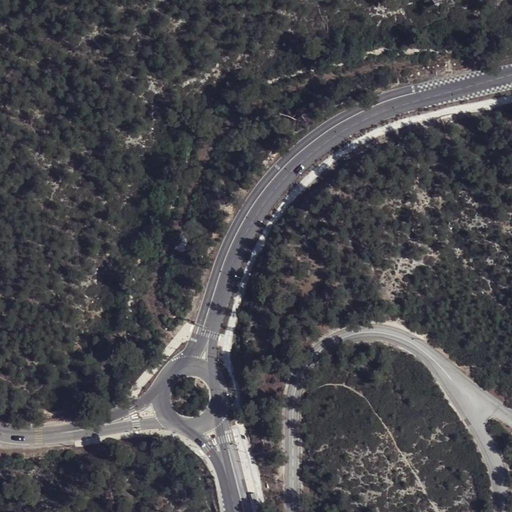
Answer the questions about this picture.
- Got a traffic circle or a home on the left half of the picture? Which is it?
traffic circle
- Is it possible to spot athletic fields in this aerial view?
No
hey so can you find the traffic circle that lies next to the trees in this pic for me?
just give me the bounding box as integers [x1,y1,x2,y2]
[104,340,238,474]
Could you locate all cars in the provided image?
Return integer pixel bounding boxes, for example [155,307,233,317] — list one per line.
[194,437,206,448]
[11,435,24,442]
[294,164,305,174]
